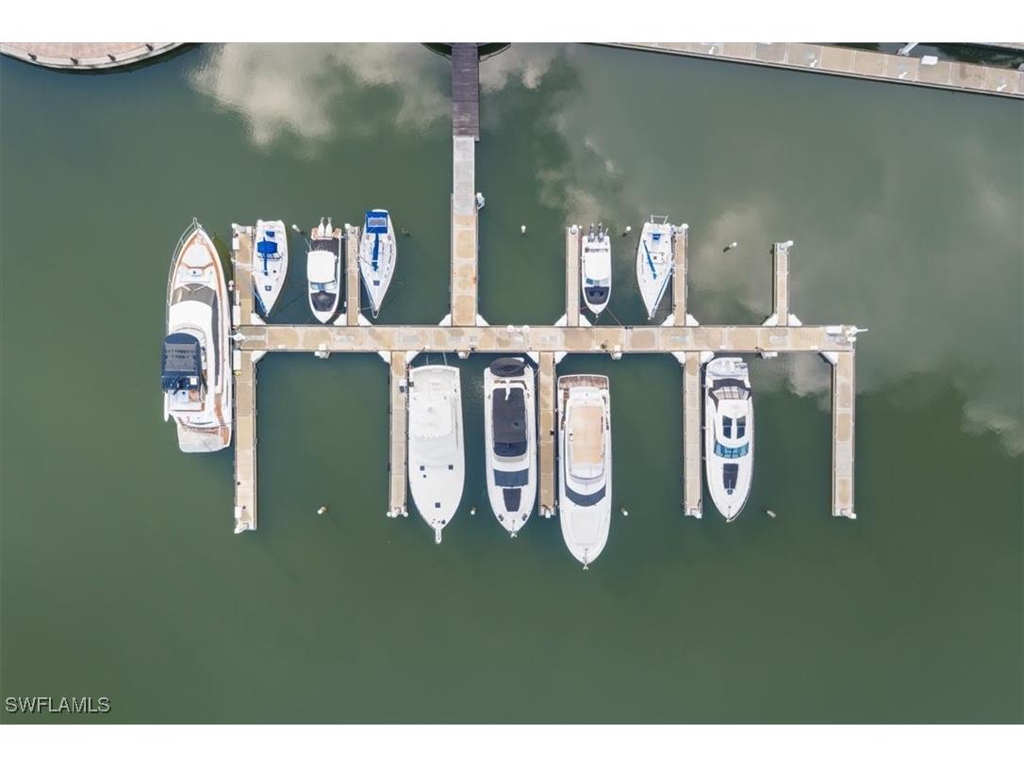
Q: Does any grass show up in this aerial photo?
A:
No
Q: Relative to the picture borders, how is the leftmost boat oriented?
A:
from top to bottom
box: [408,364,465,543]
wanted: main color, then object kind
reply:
white boat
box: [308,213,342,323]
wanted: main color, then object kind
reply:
white boat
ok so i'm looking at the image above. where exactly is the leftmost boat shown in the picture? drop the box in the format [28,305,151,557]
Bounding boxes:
[161,218,235,453]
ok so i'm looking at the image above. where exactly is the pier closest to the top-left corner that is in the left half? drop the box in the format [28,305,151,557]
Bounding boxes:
[233,224,269,326]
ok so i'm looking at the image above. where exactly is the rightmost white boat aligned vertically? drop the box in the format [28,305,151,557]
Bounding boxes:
[704,359,756,522]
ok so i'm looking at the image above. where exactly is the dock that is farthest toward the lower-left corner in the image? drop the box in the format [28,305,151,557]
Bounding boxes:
[235,352,271,531]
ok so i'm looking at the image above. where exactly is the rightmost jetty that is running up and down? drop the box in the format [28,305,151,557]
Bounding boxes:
[818,352,855,516]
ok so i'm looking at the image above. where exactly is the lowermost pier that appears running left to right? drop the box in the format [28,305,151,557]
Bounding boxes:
[235,326,854,352]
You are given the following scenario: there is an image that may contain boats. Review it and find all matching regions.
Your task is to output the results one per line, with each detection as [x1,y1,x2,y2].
[408,364,465,543]
[637,214,674,321]
[308,213,342,323]
[234,219,288,318]
[704,359,756,522]
[484,364,537,540]
[357,209,397,318]
[707,356,747,377]
[558,375,613,572]
[490,357,526,377]
[161,218,235,453]
[581,221,611,319]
